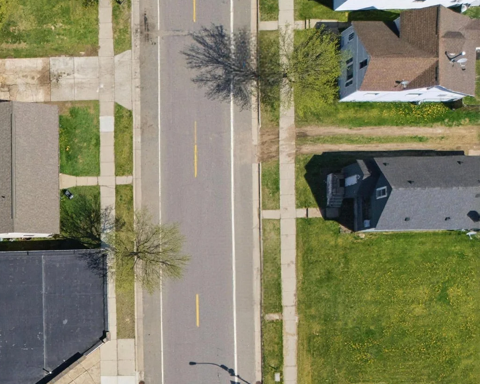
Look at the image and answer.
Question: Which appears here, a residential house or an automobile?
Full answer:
The one in the frame is a residential house.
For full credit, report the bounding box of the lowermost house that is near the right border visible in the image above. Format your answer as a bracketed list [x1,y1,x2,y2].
[329,156,480,232]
